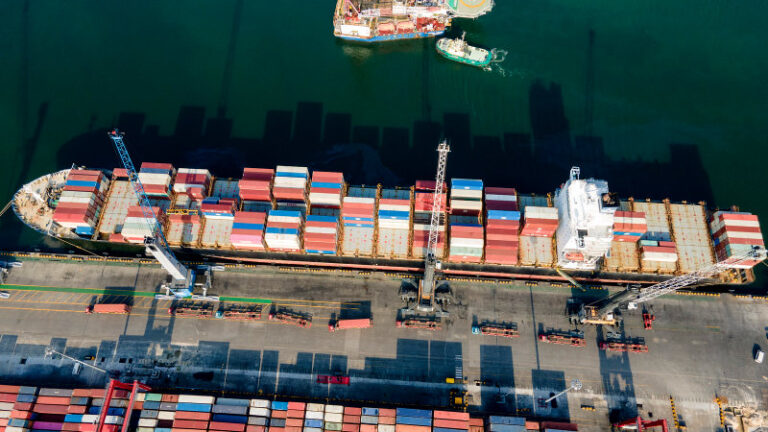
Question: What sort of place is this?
port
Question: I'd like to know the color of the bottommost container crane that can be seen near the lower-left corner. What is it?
red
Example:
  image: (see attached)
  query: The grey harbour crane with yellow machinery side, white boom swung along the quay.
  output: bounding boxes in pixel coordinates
[570,240,768,334]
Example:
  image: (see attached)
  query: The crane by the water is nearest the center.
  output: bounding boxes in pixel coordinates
[398,136,451,320]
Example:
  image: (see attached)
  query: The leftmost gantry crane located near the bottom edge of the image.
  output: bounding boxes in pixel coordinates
[94,378,161,432]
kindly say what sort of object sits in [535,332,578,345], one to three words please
vehicle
